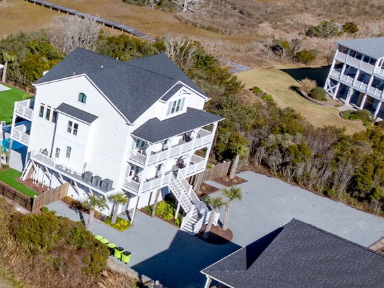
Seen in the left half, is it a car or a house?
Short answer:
house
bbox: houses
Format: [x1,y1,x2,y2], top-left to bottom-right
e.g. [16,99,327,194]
[1,49,227,235]
[324,38,384,117]
[193,220,384,288]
